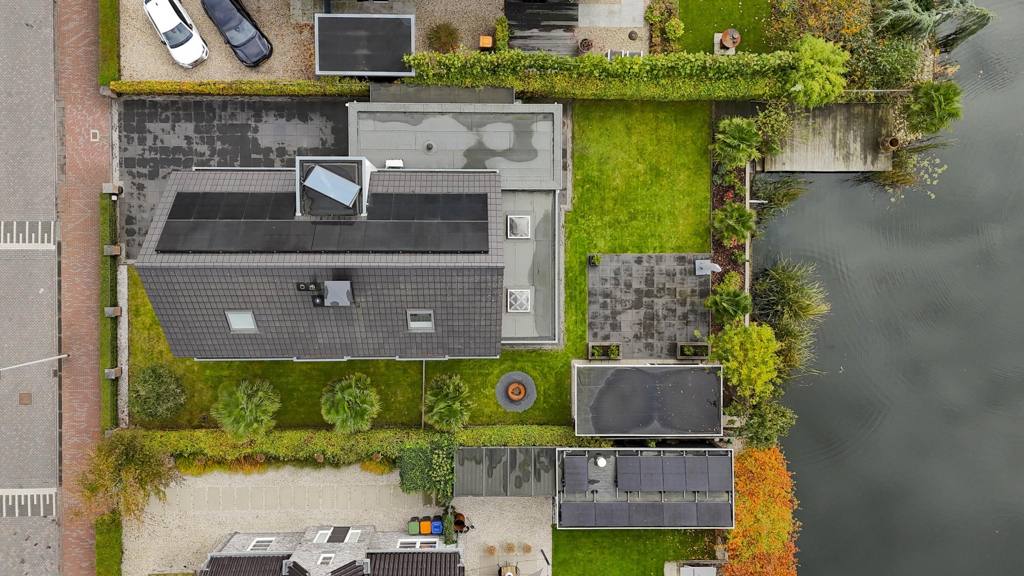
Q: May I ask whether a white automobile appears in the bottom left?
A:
No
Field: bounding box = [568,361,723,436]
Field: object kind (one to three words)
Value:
shed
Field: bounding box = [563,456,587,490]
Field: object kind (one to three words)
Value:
solar panel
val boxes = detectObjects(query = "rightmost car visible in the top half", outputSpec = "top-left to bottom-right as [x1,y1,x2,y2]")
[196,0,273,70]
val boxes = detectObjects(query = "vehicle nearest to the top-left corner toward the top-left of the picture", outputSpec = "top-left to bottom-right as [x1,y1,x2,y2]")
[128,0,204,70]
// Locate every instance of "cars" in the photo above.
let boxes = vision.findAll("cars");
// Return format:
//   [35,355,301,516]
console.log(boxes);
[128,0,204,70]
[196,0,273,70]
